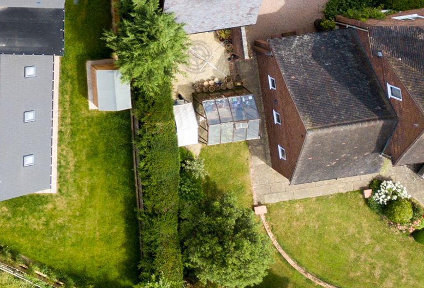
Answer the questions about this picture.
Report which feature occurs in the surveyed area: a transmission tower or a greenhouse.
greenhouse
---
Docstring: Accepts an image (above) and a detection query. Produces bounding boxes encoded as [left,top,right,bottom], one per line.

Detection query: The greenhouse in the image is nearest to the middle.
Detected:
[193,90,261,146]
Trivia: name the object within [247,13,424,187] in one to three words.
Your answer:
house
